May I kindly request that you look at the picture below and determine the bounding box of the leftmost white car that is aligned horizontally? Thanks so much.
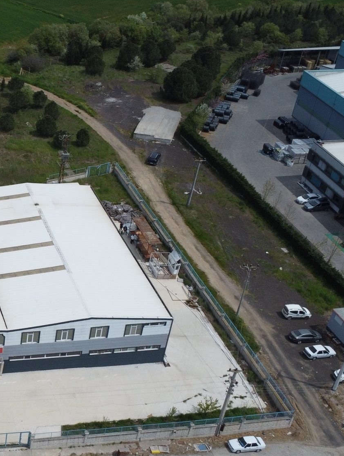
[227,436,267,455]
